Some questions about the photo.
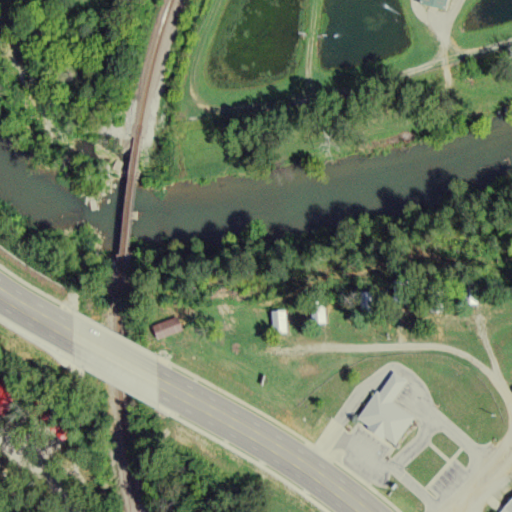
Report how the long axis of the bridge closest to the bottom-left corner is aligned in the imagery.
at an angle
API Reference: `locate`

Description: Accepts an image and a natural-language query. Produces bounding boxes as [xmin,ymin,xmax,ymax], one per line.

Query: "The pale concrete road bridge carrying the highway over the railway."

[69,306,161,413]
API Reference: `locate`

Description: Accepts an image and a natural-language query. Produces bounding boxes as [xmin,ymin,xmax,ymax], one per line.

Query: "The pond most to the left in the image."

[214,0,300,88]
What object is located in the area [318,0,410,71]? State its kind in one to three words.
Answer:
pond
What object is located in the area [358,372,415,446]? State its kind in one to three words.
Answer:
building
